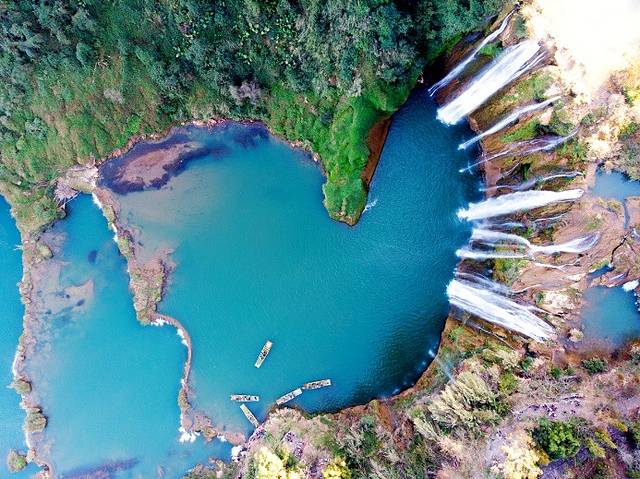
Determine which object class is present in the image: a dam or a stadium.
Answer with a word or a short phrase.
dam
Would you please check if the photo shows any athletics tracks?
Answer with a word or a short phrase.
No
